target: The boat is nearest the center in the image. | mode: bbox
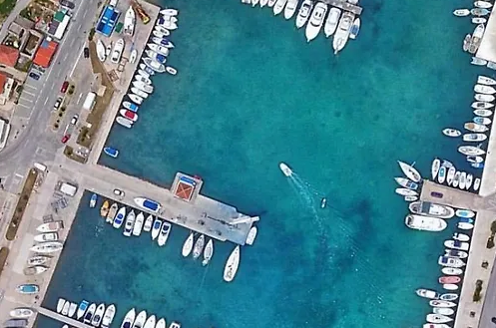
[280,163,294,178]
